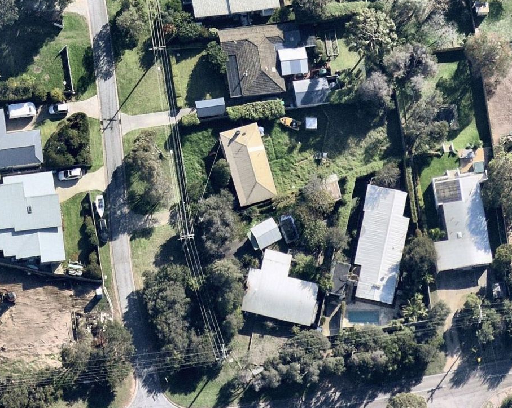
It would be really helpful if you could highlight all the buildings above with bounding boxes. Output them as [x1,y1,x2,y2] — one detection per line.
[242,249,323,326]
[328,173,342,203]
[432,148,493,274]
[0,108,44,170]
[250,218,282,251]
[0,171,67,265]
[331,184,409,304]
[182,0,279,25]
[219,22,316,104]
[292,77,329,109]
[219,123,276,207]
[196,97,226,119]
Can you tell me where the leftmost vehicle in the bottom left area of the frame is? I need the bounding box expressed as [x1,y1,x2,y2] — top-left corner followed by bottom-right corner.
[0,290,19,304]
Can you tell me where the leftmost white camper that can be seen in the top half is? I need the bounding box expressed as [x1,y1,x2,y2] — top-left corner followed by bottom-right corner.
[8,103,40,117]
